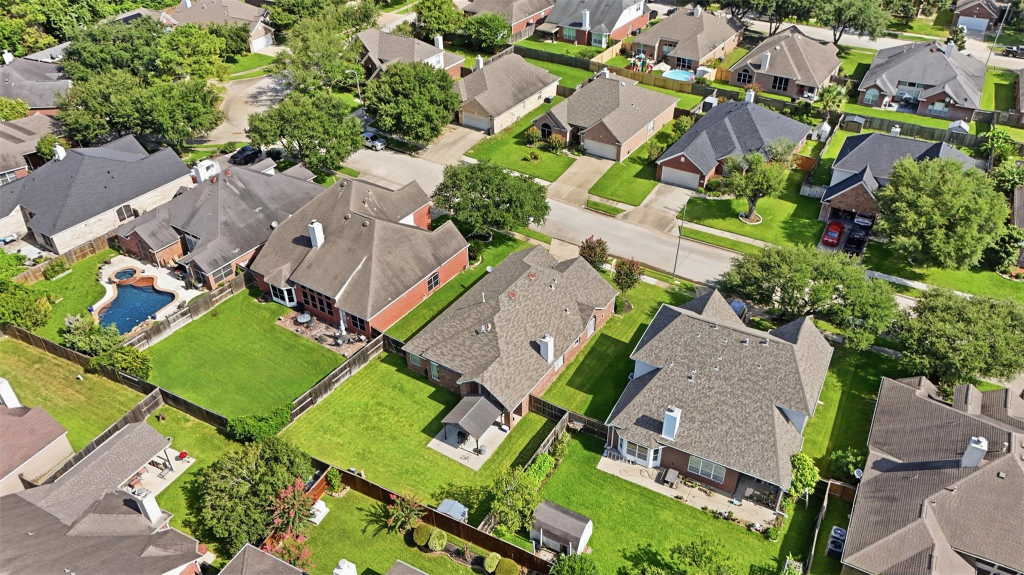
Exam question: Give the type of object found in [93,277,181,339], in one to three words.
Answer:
swimming pool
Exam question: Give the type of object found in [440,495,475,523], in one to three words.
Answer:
shed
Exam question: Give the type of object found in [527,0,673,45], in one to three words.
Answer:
house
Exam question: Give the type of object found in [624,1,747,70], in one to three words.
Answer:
house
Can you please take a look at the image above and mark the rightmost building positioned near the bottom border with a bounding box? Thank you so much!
[839,375,1024,575]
